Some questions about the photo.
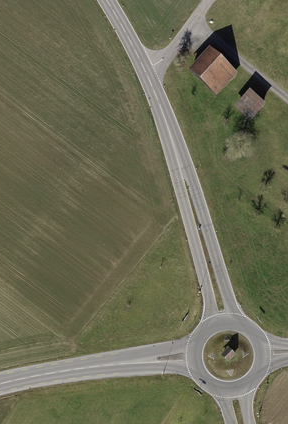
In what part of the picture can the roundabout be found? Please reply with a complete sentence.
Look in the bottom right portion of the view to spot the roundabout.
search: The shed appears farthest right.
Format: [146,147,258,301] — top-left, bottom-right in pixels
[235,88,266,119]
